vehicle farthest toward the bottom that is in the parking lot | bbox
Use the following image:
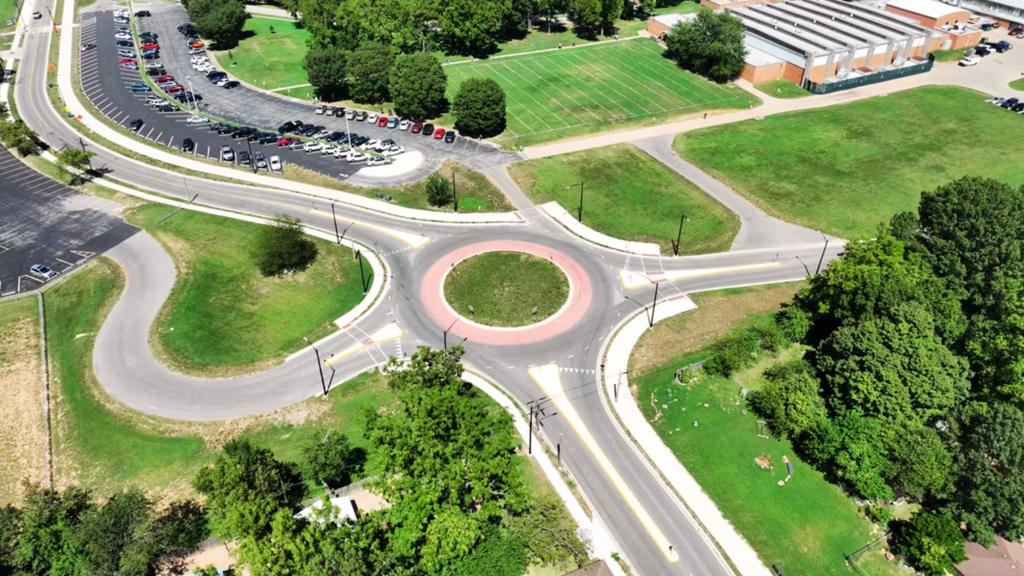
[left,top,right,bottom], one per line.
[28,264,56,279]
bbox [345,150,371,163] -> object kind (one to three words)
vehicle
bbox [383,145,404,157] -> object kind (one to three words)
vehicle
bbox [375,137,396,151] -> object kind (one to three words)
car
